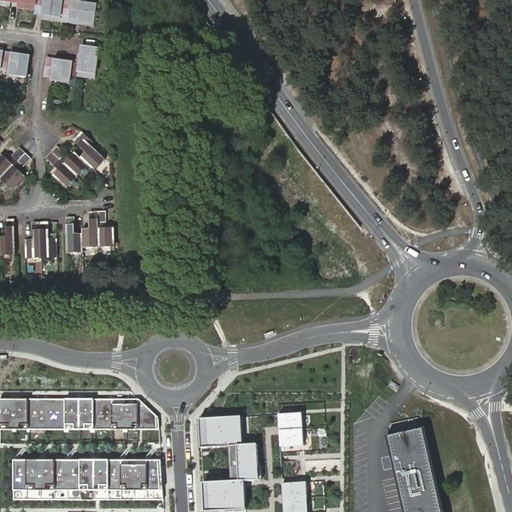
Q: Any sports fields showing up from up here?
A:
No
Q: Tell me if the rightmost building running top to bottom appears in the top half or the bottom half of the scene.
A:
bottom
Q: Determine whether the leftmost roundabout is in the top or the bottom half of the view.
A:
bottom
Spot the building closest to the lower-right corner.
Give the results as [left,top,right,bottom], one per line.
[386,426,441,512]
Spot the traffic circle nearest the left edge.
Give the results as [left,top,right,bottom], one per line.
[139,332,210,403]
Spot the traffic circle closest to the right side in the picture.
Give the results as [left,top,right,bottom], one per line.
[384,248,512,404]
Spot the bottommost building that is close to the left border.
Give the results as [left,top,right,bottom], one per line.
[12,458,162,500]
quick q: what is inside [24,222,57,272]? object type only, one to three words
house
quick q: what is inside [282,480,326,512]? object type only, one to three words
building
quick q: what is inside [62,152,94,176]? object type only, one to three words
house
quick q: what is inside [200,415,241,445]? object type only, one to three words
building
